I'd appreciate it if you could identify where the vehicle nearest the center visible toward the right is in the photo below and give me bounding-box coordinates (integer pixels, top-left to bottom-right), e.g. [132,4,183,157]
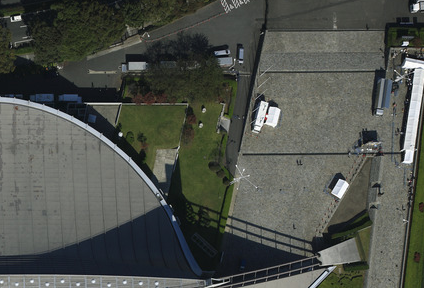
[252,100,269,134]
